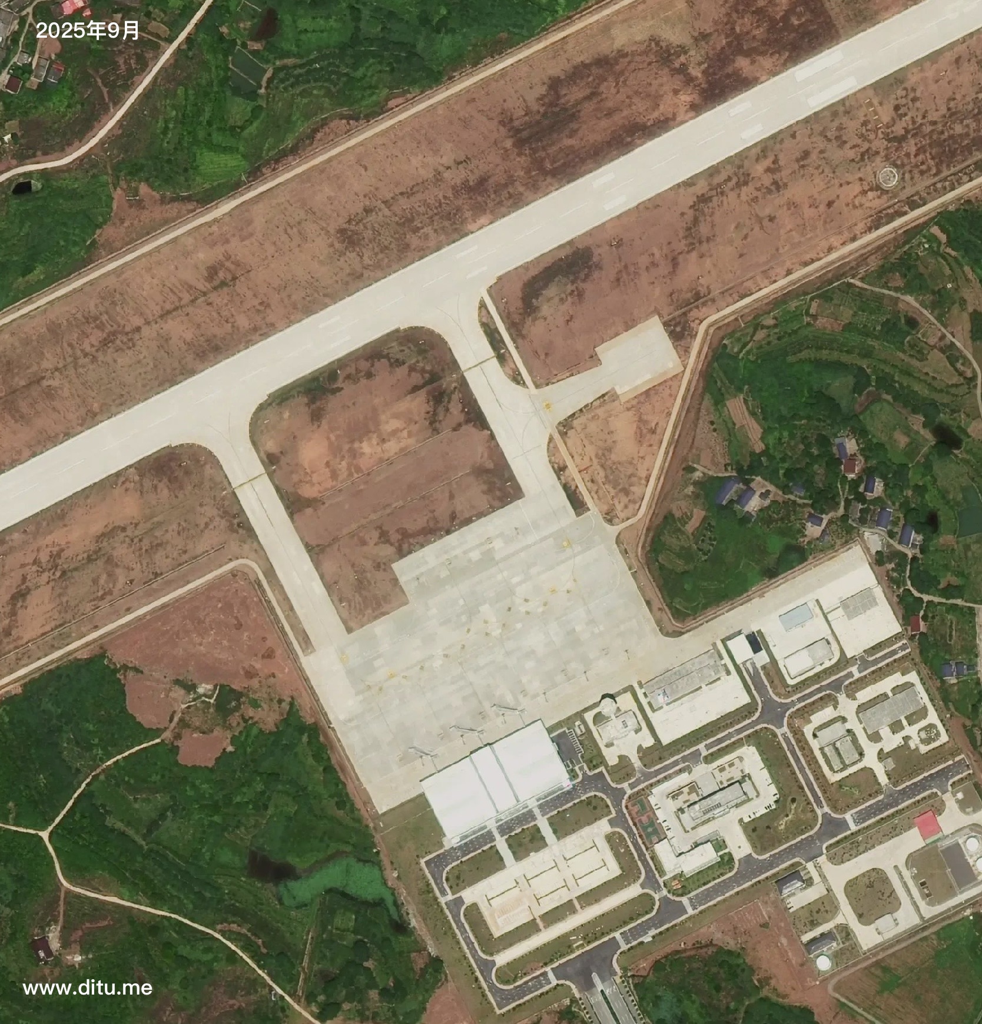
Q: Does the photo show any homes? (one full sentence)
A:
Yes, a home can be made out from above.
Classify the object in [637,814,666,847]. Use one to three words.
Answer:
basketball court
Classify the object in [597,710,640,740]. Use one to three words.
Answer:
building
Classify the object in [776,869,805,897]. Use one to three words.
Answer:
house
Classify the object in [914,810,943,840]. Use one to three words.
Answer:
shed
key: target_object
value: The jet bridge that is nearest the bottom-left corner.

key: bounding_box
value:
[408,746,439,772]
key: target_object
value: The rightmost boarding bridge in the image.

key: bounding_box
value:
[490,702,526,726]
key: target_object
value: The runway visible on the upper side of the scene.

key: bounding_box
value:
[0,0,982,530]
